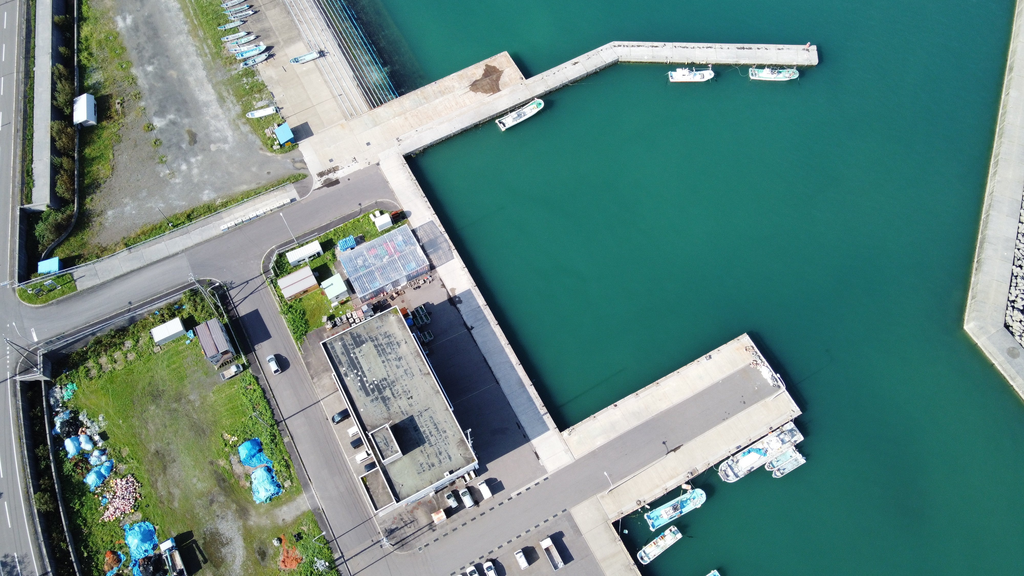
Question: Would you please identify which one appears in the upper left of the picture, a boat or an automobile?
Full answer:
Visible in the upper left of the picture is a boat.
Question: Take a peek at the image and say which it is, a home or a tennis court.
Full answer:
Visible in the photo is a home.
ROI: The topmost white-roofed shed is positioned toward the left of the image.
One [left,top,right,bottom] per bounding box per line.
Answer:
[72,94,102,133]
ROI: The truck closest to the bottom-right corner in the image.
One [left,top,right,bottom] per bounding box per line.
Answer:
[536,533,567,574]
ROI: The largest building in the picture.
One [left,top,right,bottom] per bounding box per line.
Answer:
[321,307,478,515]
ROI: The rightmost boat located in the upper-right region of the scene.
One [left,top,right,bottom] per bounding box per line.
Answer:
[747,63,800,82]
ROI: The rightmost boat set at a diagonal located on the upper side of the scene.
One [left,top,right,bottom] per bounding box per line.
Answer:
[497,101,543,133]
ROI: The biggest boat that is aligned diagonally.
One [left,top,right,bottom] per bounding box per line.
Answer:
[717,421,803,478]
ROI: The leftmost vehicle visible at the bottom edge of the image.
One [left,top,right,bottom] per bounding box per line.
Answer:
[158,540,186,576]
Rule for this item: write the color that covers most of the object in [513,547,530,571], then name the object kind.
white vehicle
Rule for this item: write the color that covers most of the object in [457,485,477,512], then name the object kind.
white car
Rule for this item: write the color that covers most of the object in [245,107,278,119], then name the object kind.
white boat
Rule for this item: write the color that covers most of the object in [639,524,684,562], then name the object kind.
white boat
